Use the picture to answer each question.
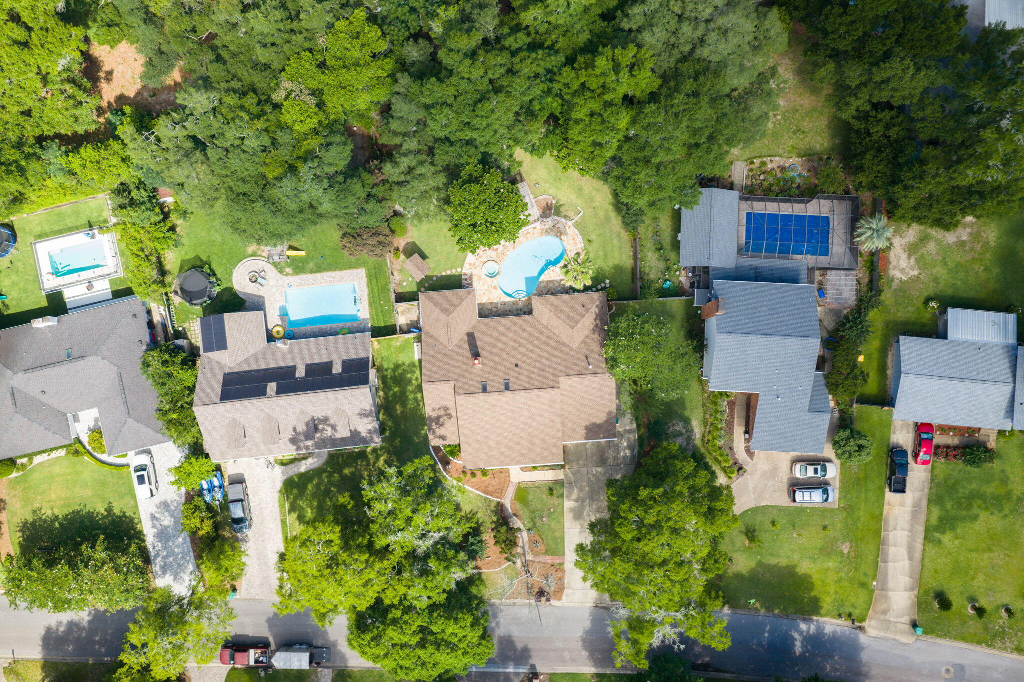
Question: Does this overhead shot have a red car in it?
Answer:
Yes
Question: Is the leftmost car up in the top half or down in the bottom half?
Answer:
bottom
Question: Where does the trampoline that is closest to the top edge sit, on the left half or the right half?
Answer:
left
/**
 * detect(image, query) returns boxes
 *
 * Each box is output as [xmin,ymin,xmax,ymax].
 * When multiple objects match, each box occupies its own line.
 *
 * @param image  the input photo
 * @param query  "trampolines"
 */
[172,265,218,307]
[0,223,22,256]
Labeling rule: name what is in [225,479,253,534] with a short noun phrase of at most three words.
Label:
truck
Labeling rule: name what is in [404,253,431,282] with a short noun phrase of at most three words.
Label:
shed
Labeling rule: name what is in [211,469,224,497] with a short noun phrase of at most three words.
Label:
boat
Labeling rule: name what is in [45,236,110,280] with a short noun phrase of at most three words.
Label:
swimming pool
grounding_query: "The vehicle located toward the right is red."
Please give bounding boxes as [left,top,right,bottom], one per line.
[911,422,937,466]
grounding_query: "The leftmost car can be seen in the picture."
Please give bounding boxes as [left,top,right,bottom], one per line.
[132,452,160,501]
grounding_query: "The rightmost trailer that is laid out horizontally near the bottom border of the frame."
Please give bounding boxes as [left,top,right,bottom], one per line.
[272,642,331,671]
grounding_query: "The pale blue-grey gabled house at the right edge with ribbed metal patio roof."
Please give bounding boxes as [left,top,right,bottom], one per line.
[882,308,1024,432]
